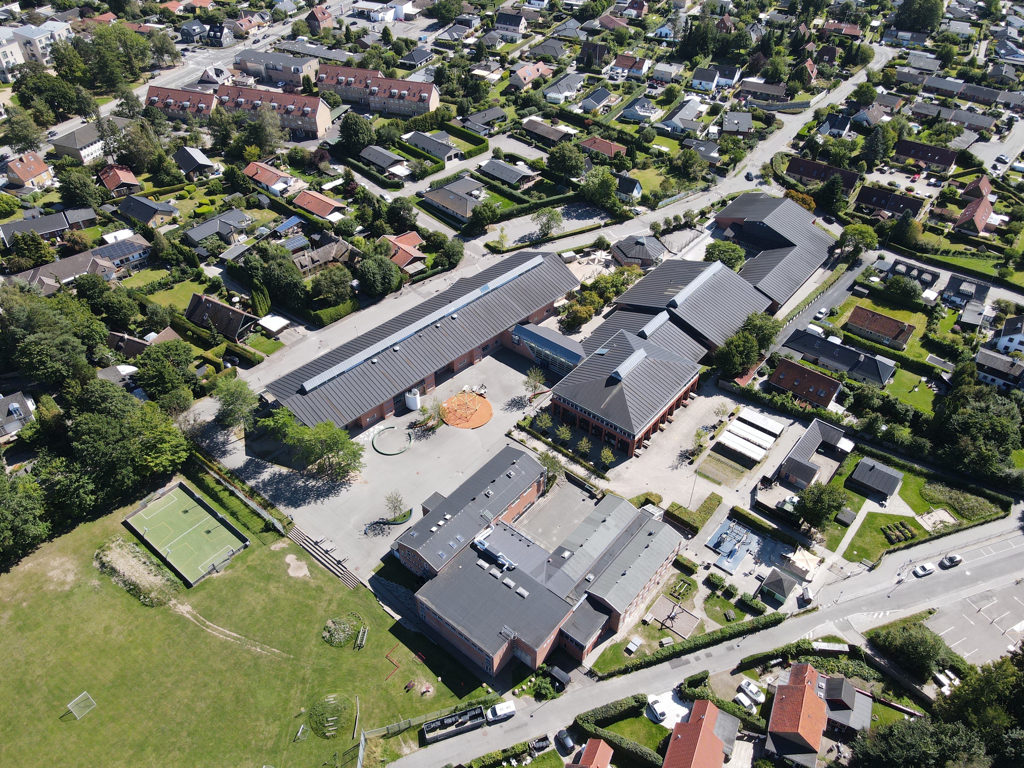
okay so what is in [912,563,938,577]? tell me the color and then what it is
white car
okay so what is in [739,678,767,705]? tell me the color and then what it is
white car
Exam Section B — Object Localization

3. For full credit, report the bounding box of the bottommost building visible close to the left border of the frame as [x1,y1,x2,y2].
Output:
[0,389,35,435]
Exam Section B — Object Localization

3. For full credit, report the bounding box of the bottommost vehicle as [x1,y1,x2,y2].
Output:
[554,727,578,757]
